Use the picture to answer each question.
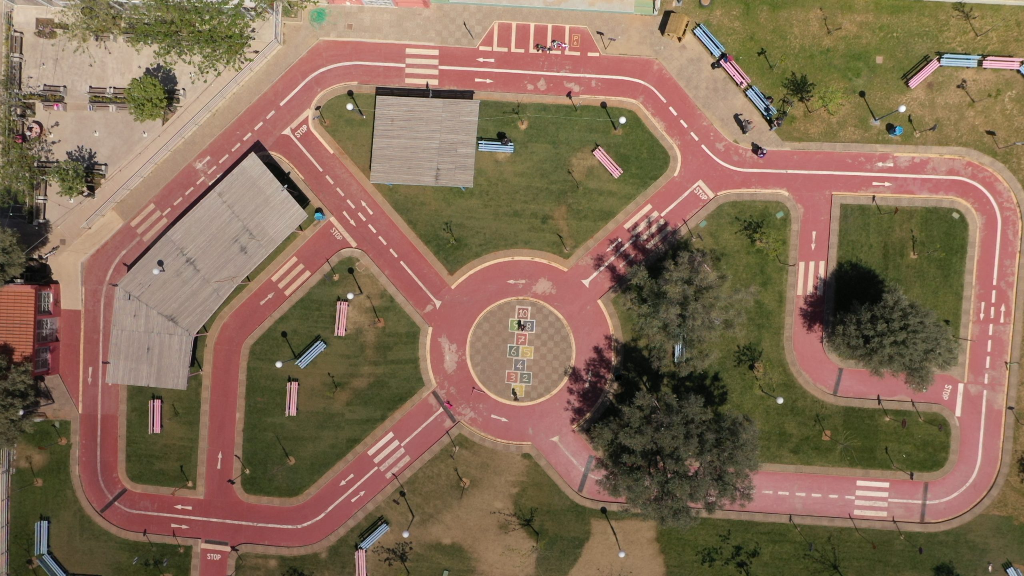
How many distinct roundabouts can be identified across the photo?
1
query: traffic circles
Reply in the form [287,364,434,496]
[428,258,614,444]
